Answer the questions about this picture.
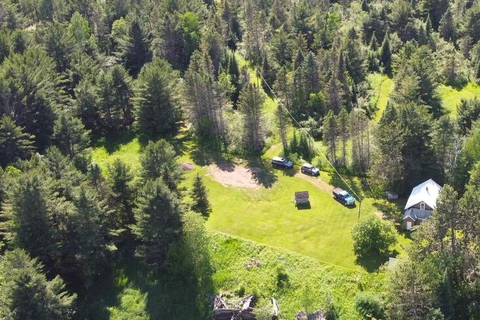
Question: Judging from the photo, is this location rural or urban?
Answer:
rural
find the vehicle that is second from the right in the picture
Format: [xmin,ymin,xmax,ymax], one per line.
[299,162,321,176]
